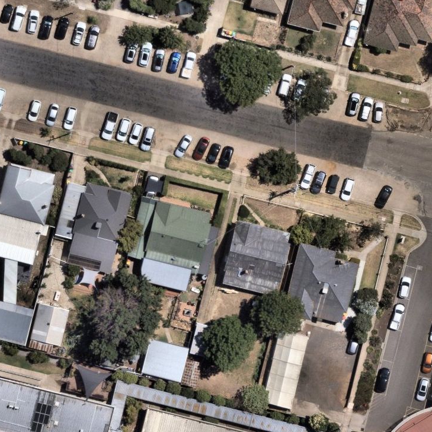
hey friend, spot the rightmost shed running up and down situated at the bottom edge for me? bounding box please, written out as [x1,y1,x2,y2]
[268,334,311,412]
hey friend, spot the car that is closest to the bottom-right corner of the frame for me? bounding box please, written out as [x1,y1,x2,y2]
[416,378,429,402]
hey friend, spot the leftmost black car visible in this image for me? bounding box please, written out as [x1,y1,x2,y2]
[0,3,12,24]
